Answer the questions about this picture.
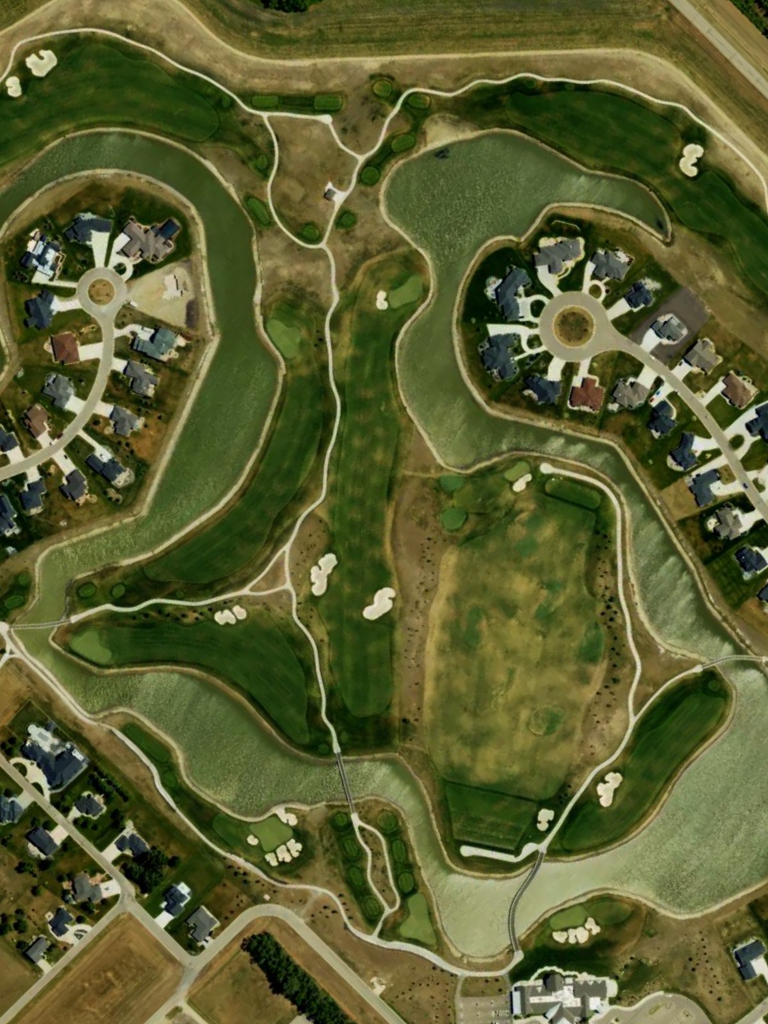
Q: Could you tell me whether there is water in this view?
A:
Yes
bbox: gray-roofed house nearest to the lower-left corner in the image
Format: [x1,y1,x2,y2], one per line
[25,937,51,964]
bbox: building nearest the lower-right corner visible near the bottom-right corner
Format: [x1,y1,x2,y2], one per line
[734,938,767,981]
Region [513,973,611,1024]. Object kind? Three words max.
building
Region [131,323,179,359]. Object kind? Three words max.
house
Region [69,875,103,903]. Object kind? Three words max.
house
